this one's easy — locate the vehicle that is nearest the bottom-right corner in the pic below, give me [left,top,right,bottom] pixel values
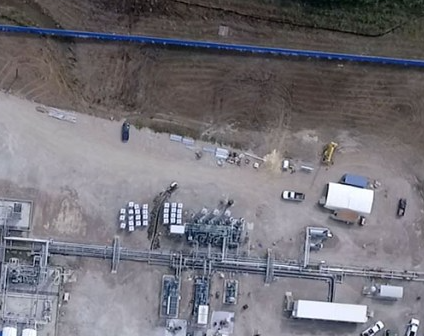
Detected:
[406,320,418,336]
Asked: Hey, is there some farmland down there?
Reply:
Yes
